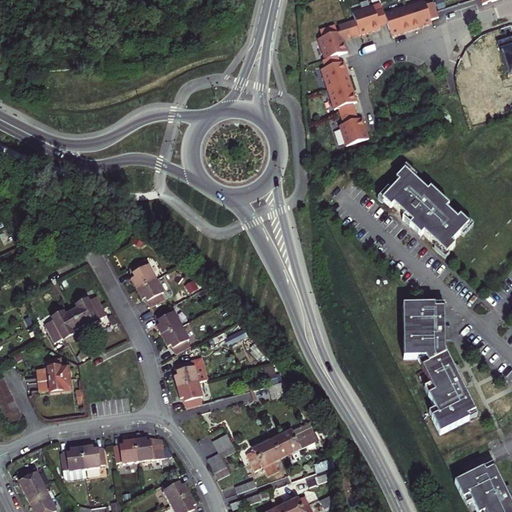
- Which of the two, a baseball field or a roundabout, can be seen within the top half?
roundabout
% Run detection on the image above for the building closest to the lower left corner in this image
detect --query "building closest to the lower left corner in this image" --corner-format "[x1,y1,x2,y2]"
[17,471,60,512]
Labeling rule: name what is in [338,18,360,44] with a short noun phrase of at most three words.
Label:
house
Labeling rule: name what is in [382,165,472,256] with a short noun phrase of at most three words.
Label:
building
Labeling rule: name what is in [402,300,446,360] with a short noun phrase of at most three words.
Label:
building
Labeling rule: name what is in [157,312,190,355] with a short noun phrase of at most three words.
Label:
house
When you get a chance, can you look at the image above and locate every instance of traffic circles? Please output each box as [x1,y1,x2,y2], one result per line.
[181,100,288,206]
